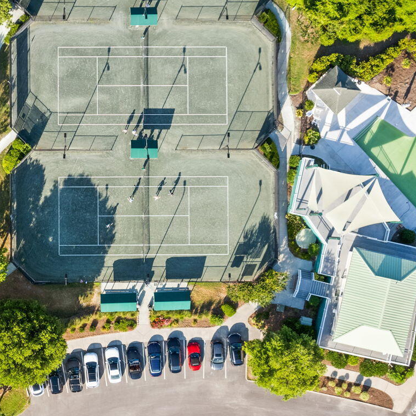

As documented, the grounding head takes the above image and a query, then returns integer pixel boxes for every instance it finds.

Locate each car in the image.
[166,338,183,373]
[210,340,226,372]
[105,346,122,384]
[66,357,84,395]
[228,333,245,366]
[83,353,99,389]
[126,347,142,380]
[187,341,203,372]
[146,342,163,377]
[29,369,44,397]
[45,360,63,395]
